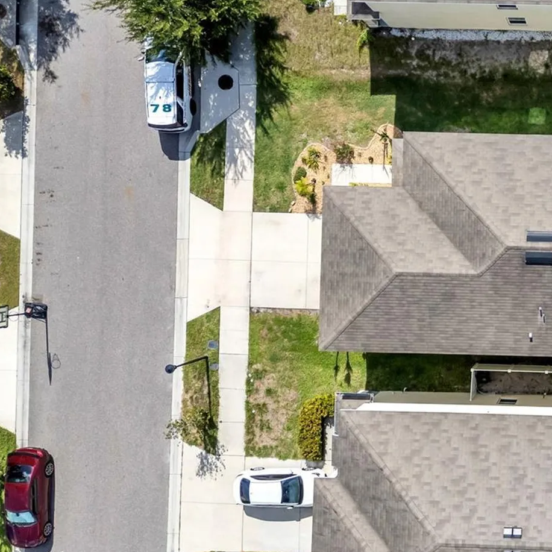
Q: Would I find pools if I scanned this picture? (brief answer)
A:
No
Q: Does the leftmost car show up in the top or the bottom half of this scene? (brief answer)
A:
bottom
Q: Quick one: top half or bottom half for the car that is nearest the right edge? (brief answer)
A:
bottom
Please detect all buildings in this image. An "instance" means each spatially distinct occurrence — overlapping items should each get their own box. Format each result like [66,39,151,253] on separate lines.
[318,130,552,356]
[347,0,552,40]
[311,381,552,552]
